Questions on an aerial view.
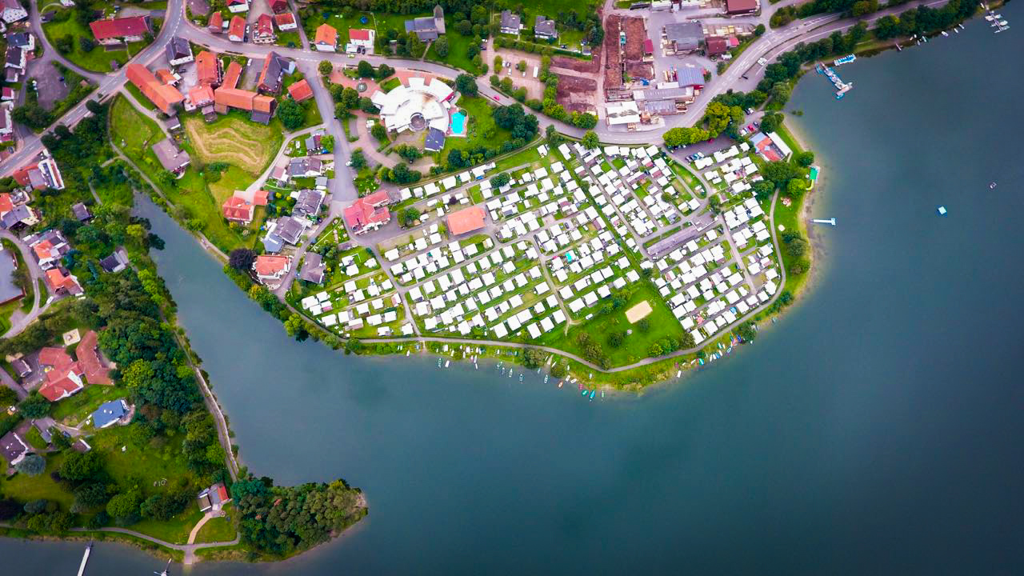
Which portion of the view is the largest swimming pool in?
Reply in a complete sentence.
The largest swimming pool appears toward the top of the photo.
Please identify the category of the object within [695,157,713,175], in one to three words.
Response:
camper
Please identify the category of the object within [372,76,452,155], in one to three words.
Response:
building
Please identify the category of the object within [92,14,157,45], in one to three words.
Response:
house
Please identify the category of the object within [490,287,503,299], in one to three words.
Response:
vehicle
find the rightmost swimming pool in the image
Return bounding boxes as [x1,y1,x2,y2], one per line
[447,106,468,137]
